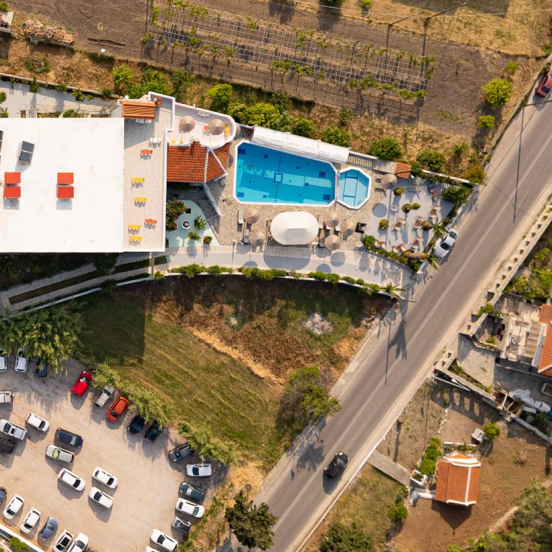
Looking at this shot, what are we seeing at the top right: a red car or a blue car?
red car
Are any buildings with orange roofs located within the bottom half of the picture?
Yes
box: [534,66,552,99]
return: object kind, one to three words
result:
car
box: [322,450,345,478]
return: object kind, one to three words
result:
car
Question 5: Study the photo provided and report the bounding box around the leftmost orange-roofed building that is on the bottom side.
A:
[425,444,482,512]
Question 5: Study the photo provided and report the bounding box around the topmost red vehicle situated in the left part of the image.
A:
[70,369,89,398]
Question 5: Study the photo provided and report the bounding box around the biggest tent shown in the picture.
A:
[268,210,317,245]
